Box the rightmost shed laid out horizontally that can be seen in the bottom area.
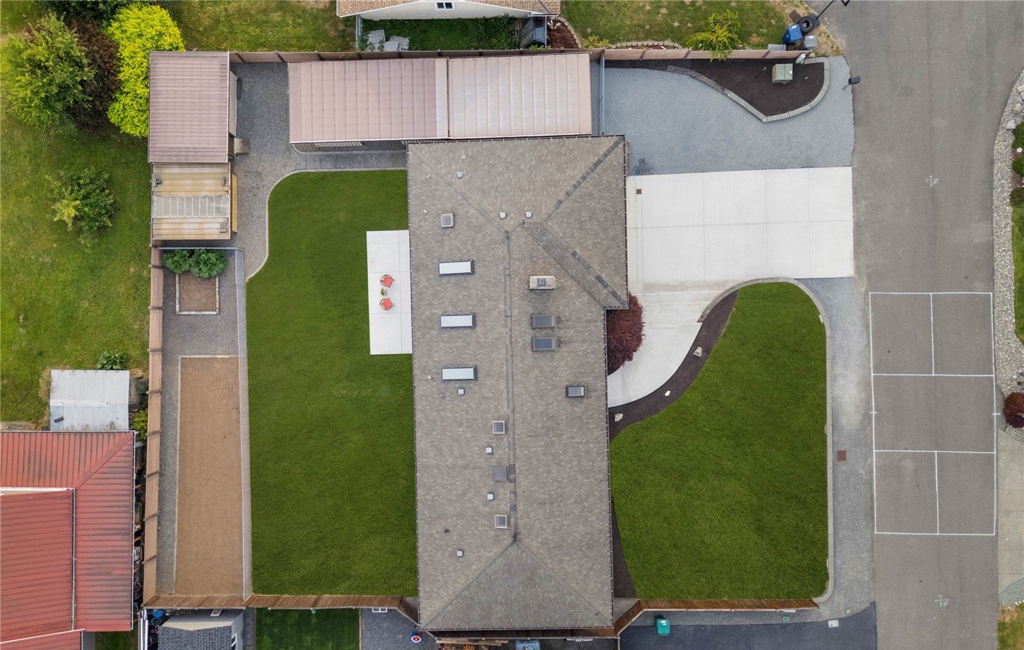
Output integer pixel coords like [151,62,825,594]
[160,612,246,650]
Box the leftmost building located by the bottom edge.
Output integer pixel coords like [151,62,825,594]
[0,430,136,650]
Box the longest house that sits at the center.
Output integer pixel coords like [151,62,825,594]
[405,134,631,633]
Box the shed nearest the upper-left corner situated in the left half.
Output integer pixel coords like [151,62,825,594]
[148,52,237,162]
